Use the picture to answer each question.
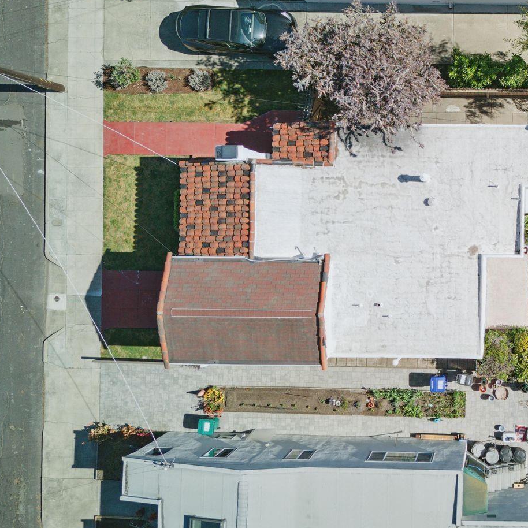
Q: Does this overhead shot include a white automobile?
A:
No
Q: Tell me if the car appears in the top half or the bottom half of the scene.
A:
top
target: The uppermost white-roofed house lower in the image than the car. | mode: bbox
[149,124,528,373]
